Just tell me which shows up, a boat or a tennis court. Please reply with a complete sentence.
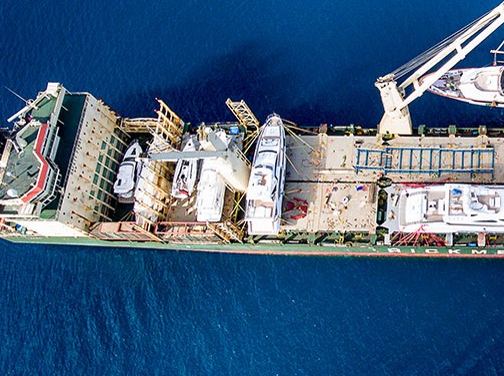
It is a boat that can be seen here.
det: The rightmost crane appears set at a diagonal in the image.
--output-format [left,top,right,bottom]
[365,7,504,142]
